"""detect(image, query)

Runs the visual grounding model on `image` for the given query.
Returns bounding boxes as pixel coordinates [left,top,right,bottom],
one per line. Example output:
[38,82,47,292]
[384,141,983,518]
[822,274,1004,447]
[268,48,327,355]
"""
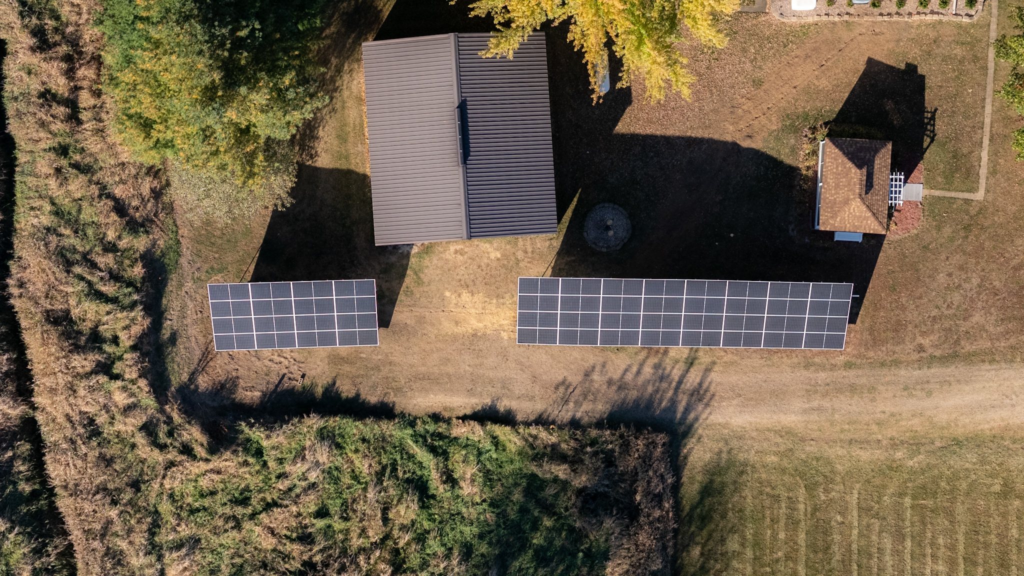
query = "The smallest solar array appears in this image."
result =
[206,279,378,350]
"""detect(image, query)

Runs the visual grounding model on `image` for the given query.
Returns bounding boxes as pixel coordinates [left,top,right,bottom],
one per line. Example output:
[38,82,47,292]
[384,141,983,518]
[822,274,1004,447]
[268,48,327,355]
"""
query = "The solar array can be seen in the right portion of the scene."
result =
[518,277,859,349]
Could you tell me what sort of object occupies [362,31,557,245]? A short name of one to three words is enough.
barn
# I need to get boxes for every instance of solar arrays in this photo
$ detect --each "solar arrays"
[206,279,378,350]
[518,277,859,349]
